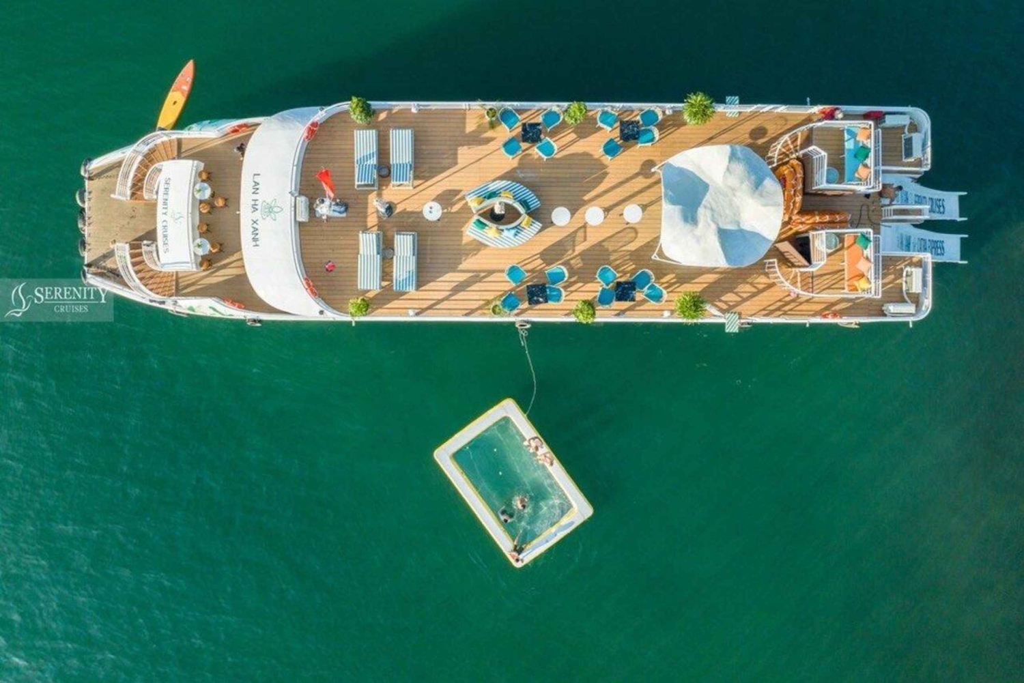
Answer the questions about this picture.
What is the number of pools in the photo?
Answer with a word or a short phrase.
one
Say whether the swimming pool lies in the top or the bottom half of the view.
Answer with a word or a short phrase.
bottom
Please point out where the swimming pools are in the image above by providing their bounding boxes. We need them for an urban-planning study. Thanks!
[433,398,594,568]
